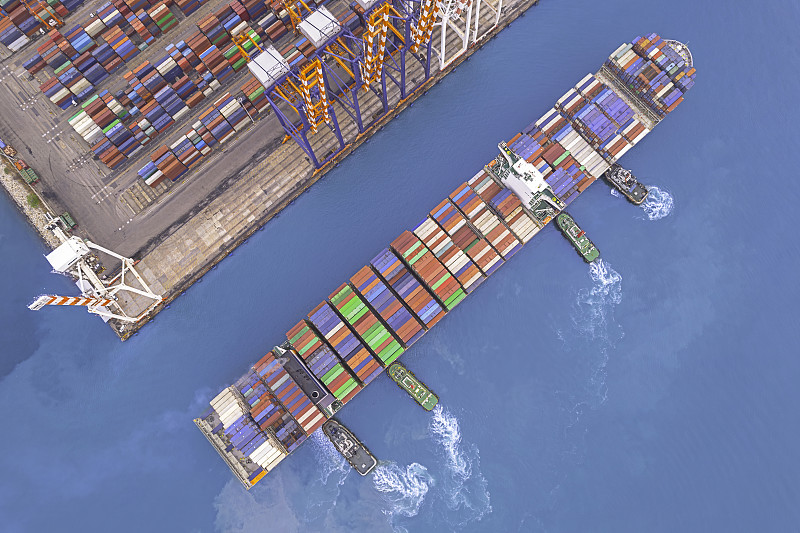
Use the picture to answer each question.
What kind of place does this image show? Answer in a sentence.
It's a port.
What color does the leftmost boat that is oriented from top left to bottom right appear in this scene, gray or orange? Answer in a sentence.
From above, the leftmost boat that is oriented from top left to bottom right appears gray.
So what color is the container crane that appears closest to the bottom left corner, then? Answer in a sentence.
The container crane that appears closest to the bottom left corner is white.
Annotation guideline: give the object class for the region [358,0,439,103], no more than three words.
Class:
container crane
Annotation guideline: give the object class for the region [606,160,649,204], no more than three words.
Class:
boat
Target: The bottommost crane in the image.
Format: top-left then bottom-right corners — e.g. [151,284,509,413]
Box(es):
[34,218,174,324]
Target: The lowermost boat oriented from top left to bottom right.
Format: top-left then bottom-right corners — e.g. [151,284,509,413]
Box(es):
[323,418,380,479]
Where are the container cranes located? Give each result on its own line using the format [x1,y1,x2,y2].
[358,0,439,103]
[439,0,505,45]
[230,27,354,173]
[407,0,474,73]
[34,218,174,324]
[280,0,396,137]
